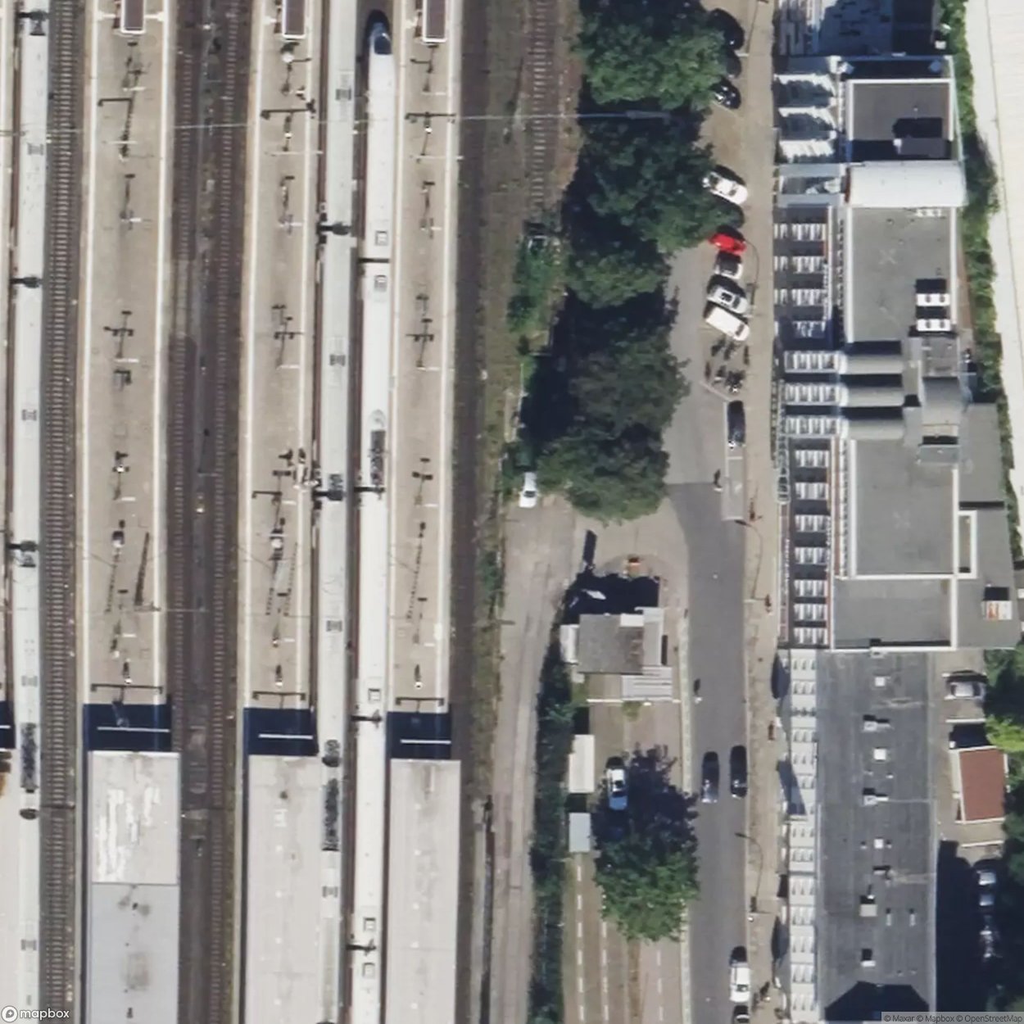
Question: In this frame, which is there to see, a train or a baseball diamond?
train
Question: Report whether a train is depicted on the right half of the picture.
No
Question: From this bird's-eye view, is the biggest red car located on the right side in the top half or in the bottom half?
top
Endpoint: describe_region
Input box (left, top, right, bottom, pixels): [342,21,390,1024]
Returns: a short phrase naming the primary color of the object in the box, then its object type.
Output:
white train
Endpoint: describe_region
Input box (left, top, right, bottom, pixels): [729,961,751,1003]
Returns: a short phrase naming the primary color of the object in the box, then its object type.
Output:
white car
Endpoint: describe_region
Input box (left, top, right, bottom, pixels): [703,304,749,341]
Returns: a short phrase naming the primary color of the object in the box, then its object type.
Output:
white vehicle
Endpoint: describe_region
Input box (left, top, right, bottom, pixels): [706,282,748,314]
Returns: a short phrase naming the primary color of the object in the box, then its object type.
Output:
white car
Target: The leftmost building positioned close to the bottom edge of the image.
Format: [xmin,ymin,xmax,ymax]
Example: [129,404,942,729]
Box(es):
[781,650,937,1024]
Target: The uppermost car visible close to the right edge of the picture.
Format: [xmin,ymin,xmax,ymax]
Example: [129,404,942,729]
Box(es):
[945,678,984,698]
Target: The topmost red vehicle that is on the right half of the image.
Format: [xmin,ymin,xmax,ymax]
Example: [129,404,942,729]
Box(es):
[708,228,746,255]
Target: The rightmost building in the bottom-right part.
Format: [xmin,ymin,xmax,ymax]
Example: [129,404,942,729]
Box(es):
[945,744,1007,824]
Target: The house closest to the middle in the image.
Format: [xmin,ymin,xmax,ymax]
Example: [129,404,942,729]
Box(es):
[554,608,667,679]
